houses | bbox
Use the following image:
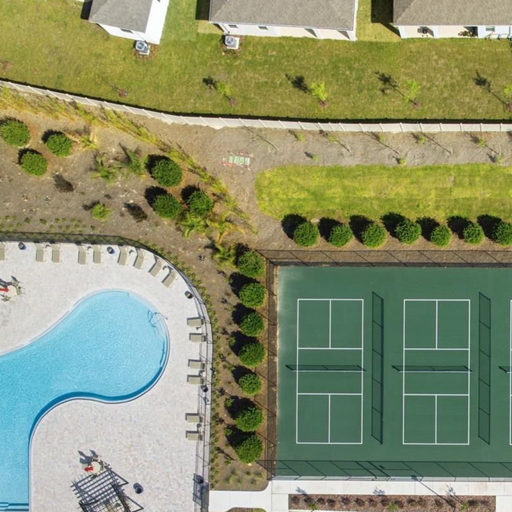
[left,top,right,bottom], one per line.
[81,0,168,44]
[207,0,358,40]
[392,0,512,38]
